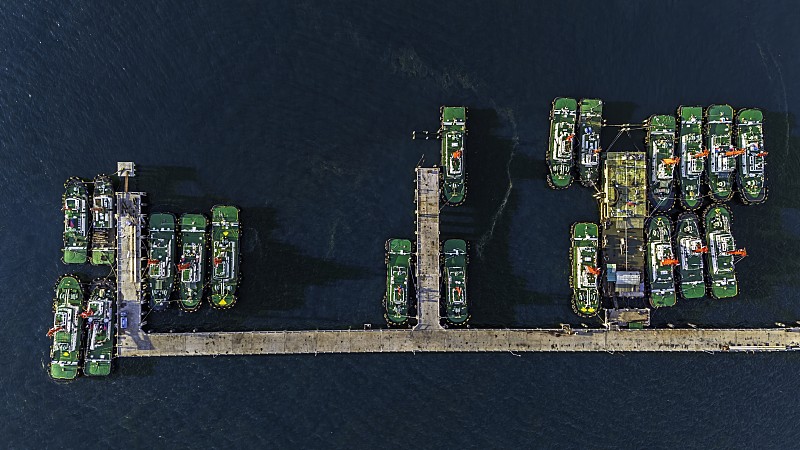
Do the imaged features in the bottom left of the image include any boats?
Yes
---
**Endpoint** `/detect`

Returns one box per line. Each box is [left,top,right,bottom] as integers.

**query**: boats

[676,107,712,209]
[176,215,209,311]
[703,204,745,298]
[734,109,770,203]
[85,176,118,263]
[674,212,710,298]
[705,107,747,202]
[76,282,117,375]
[570,223,601,318]
[208,205,241,309]
[576,99,604,186]
[548,98,578,189]
[646,116,683,211]
[441,108,469,205]
[385,240,413,326]
[45,276,86,379]
[53,176,91,263]
[645,212,683,306]
[145,214,178,310]
[441,240,469,325]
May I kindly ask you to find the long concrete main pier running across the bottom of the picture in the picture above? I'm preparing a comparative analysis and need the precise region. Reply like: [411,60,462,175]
[116,325,800,358]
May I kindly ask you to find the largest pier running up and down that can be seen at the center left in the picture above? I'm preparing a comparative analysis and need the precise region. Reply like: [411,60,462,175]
[115,191,148,334]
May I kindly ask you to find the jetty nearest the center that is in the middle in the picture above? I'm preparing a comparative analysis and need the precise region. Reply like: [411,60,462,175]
[410,167,447,331]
